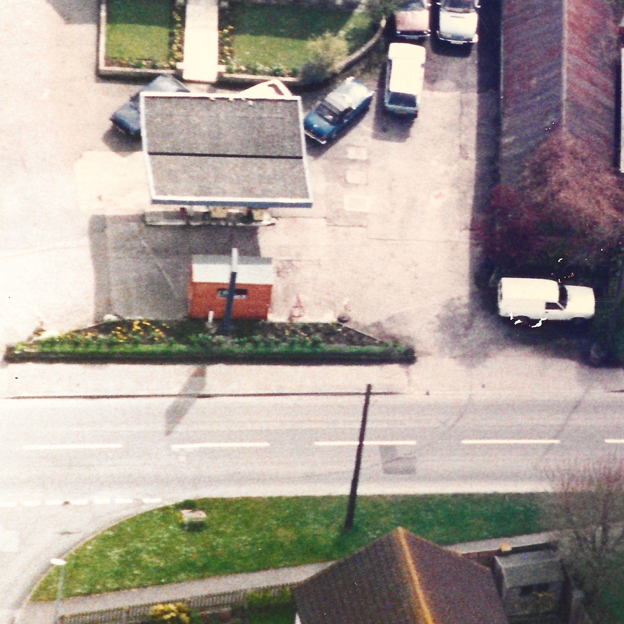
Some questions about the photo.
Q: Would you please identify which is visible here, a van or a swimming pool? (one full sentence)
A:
The one in the frame is a van.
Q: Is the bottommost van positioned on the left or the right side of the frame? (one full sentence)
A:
It is on the right.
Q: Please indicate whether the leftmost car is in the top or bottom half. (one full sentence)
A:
You can find the leftmost car in the top half.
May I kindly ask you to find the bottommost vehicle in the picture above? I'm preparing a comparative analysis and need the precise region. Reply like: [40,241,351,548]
[497,281,599,333]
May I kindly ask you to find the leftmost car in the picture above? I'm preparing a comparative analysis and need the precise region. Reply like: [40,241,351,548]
[103,83,192,143]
